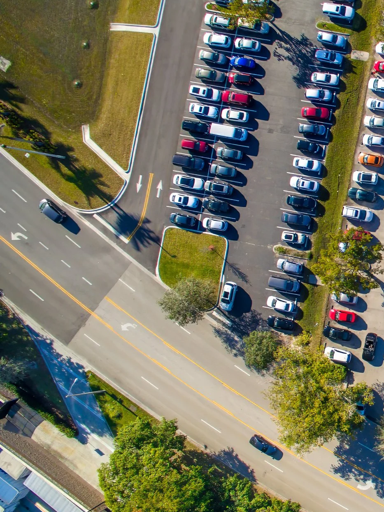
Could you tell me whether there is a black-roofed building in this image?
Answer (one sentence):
No, I can see no black-roofed building in this picture.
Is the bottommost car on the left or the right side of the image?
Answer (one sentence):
It is on the right.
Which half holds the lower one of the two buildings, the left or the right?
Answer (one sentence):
The lower one of the two buildings appears in the left half of the scene.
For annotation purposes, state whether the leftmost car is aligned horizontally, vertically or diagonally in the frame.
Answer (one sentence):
The leftmost car runs diagonally in the image.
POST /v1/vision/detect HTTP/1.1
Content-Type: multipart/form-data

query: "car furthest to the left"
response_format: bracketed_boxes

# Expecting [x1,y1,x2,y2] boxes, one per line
[41,197,68,226]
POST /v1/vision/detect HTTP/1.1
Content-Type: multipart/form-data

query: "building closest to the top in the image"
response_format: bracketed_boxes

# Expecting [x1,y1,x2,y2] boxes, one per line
[0,441,32,481]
